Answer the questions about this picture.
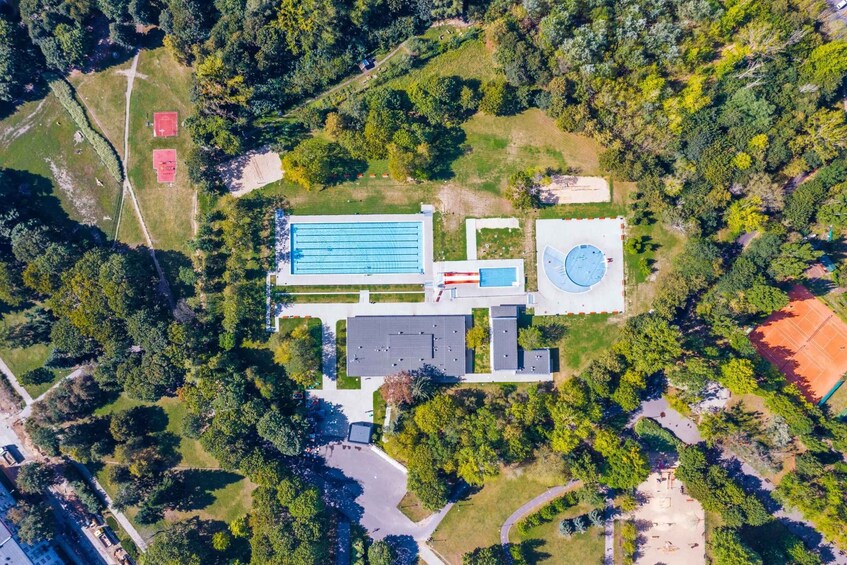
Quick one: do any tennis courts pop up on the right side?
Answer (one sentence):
Yes, looking on the right side, one can make out a tennis court.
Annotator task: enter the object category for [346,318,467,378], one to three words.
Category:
building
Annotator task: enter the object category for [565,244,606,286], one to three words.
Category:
swimming pool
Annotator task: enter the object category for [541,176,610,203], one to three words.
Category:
sports court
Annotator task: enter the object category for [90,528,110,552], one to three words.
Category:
vehicle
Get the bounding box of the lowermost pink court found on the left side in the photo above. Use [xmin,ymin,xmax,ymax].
[152,149,176,185]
